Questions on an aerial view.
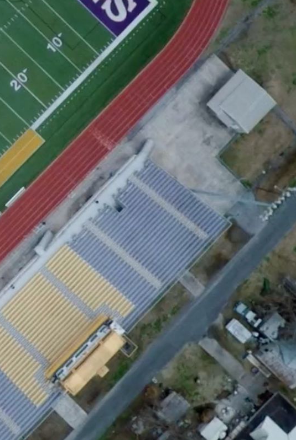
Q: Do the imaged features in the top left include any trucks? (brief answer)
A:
No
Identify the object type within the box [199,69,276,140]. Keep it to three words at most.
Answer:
shed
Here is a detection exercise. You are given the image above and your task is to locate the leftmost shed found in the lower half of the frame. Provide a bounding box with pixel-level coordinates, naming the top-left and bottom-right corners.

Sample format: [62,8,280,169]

[153,387,189,423]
